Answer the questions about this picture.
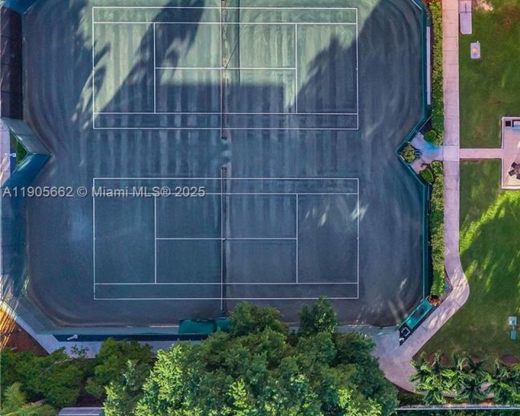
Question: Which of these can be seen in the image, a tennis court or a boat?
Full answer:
Looking from above, you can make out a tennis court.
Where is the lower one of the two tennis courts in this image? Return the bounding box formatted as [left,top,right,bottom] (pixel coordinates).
[26,153,426,327]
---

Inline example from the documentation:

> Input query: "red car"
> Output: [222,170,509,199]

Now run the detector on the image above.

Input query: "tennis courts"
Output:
[26,153,426,327]
[22,0,426,153]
